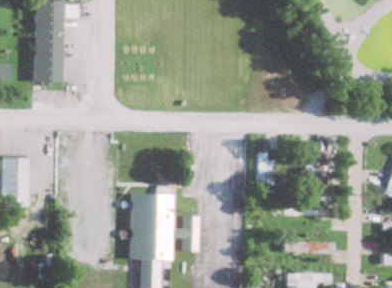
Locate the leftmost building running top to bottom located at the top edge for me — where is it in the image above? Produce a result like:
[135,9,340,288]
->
[32,0,64,82]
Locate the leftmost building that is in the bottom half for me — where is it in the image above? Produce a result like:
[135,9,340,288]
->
[2,156,30,209]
